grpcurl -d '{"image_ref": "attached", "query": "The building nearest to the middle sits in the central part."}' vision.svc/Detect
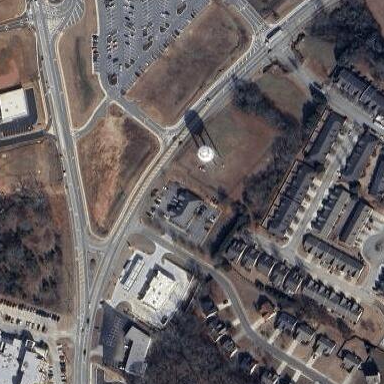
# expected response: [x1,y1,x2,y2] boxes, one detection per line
[172,195,207,228]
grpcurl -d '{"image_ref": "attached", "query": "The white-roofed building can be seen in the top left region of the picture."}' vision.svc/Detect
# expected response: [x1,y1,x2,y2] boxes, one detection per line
[0,88,28,120]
